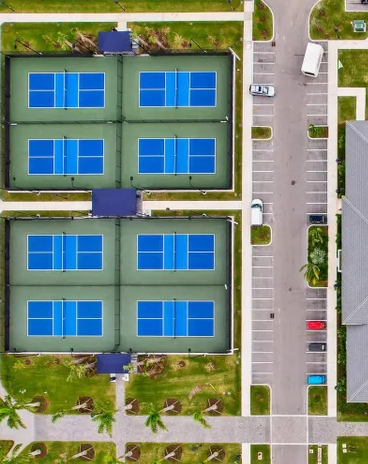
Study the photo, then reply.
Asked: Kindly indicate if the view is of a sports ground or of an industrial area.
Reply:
sports ground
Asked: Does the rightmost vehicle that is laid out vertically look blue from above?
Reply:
No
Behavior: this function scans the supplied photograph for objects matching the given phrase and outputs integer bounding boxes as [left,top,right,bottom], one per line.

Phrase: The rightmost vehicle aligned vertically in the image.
[302,40,323,78]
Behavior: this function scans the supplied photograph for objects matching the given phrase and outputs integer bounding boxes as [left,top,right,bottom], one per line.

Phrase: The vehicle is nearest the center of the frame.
[249,198,264,227]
